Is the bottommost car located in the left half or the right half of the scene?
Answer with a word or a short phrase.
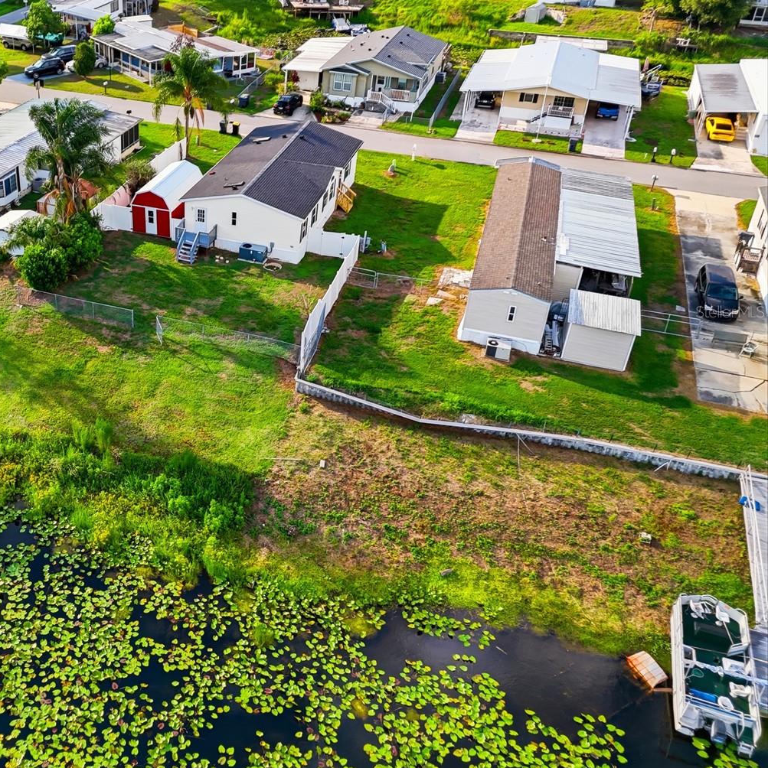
right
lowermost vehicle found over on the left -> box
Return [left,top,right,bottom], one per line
[274,92,306,117]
